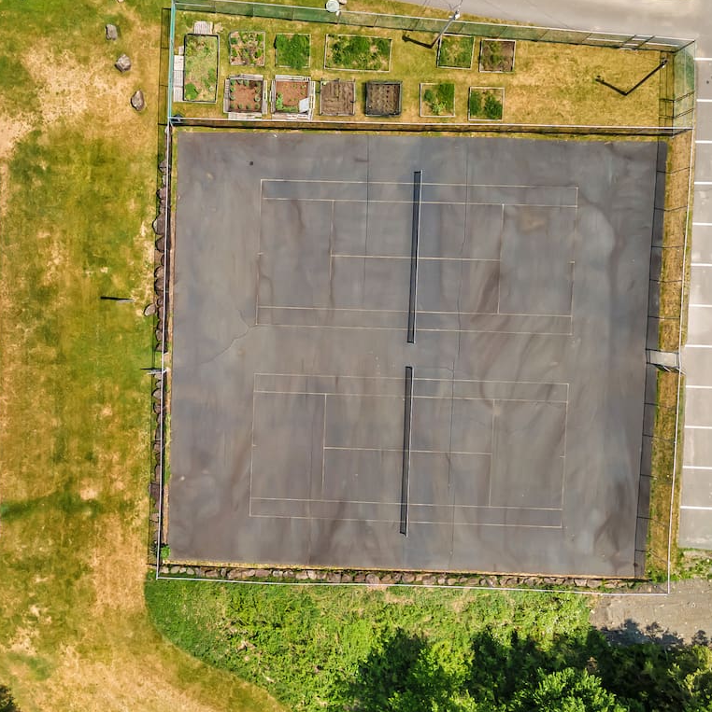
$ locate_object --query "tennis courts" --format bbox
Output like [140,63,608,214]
[167,354,656,578]
[172,132,666,369]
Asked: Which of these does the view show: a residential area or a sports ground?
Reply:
sports ground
